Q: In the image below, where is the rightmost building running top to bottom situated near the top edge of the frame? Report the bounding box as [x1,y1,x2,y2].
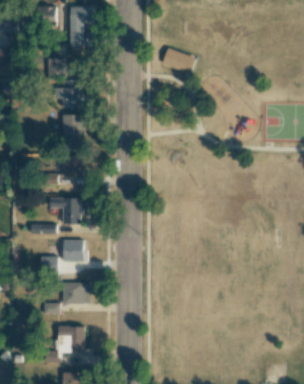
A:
[70,6,88,49]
